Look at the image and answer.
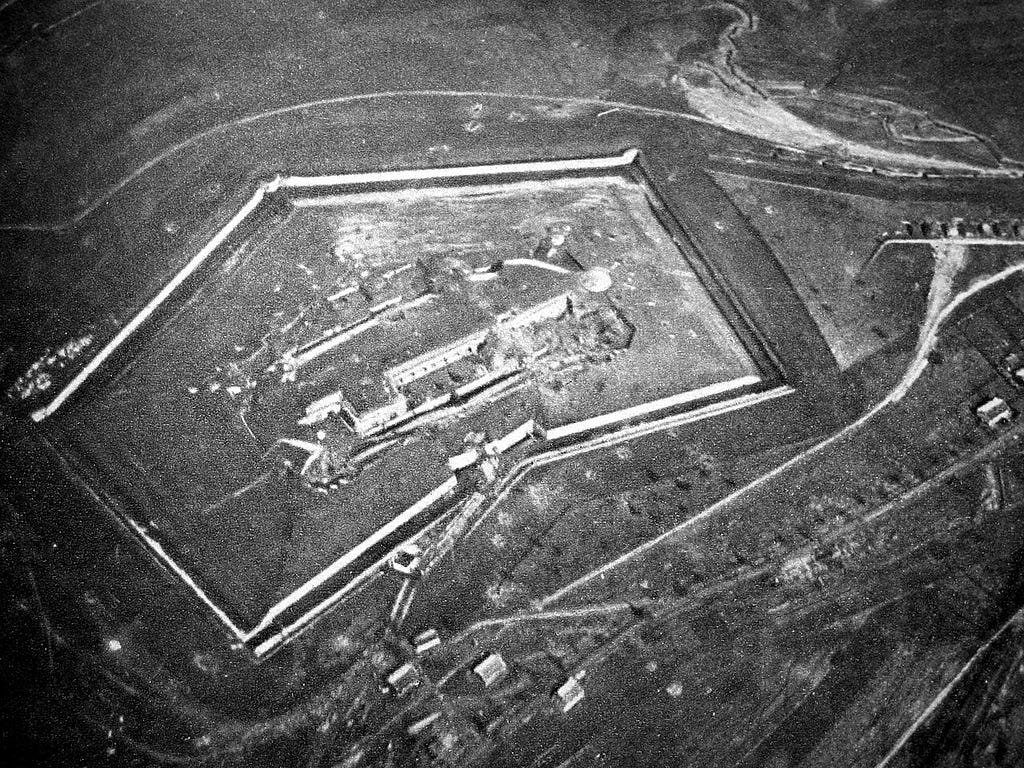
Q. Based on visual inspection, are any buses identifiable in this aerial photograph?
No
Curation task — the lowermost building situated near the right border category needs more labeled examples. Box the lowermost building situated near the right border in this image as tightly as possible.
[976,395,1013,427]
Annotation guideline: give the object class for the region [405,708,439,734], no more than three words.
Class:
shed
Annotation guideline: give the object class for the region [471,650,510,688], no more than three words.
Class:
house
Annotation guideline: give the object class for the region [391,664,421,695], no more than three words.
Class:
house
